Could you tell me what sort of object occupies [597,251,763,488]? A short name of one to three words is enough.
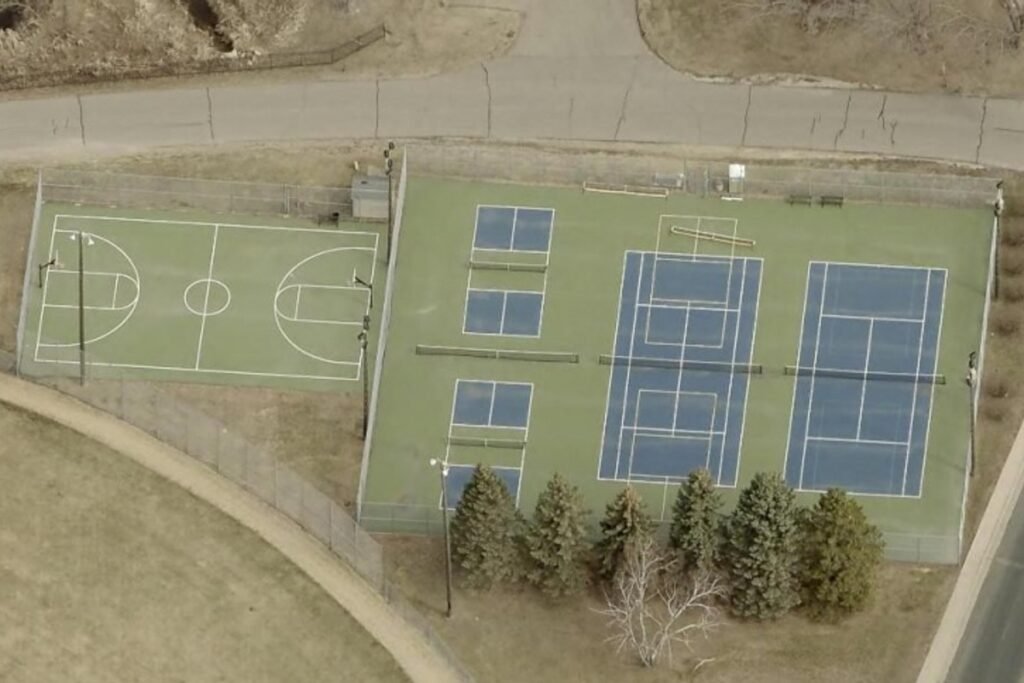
tennis court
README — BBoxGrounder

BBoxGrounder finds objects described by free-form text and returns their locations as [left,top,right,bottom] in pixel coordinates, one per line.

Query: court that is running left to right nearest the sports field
[21,203,396,391]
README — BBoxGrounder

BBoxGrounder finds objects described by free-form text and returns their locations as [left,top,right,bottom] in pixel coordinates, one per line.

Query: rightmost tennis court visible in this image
[782,261,947,498]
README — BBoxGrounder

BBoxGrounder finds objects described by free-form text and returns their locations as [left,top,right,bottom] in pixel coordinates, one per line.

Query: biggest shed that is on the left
[350,177,392,219]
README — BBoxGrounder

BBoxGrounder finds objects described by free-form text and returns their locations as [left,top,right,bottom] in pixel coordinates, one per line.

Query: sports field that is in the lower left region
[0,370,463,683]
